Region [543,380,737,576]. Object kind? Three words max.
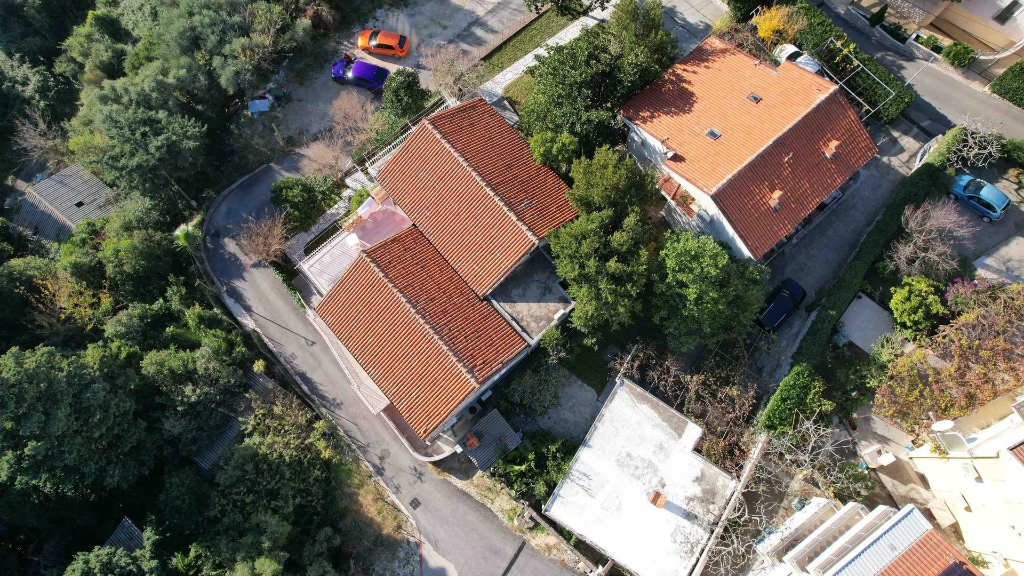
house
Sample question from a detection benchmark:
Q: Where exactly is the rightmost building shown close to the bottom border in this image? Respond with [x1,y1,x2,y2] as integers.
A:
[911,399,1024,576]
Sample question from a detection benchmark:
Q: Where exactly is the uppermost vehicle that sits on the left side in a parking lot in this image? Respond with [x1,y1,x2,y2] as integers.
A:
[357,27,411,60]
